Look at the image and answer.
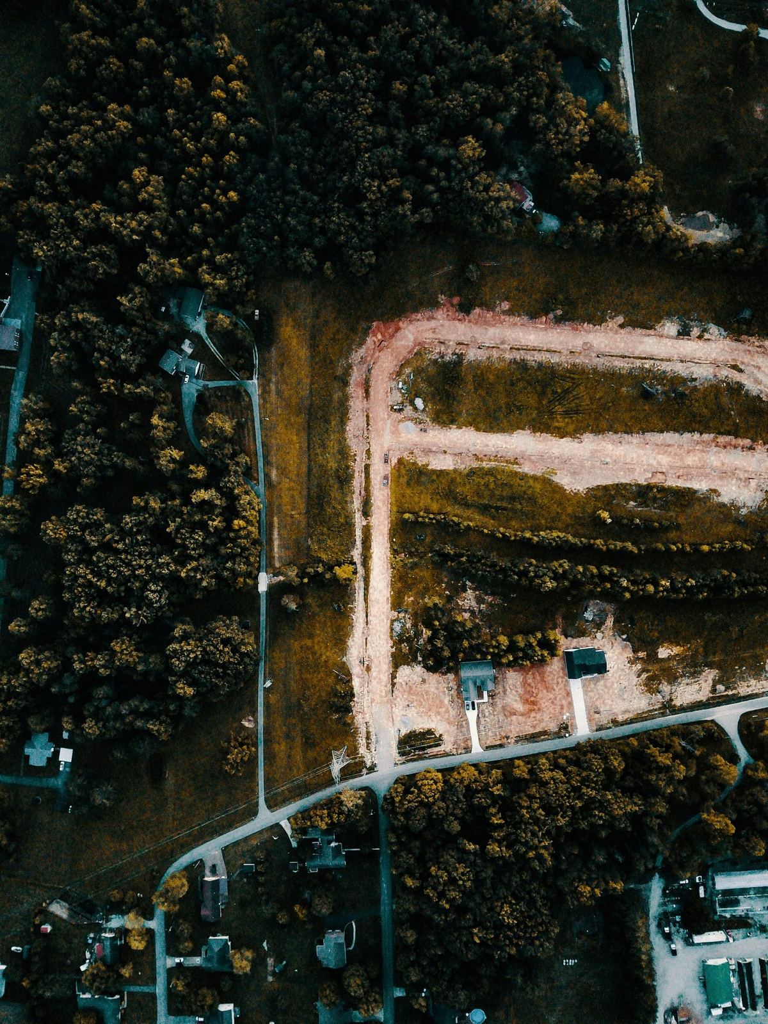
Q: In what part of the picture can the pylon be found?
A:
bottom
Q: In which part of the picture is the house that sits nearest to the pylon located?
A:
bottom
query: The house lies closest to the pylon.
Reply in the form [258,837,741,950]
[303,828,346,872]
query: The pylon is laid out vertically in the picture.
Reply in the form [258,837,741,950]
[331,745,351,788]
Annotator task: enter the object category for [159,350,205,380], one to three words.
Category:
house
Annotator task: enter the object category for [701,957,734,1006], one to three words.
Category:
building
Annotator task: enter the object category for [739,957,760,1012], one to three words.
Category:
shed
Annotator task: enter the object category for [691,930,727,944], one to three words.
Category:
house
